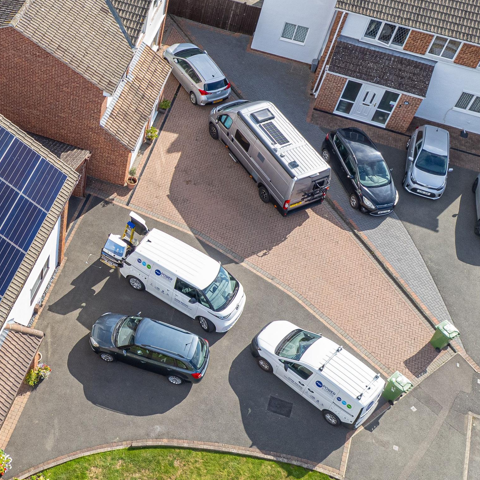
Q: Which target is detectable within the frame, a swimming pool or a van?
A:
van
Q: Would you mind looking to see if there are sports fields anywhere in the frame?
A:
No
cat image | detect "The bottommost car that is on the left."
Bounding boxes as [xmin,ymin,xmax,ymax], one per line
[88,309,209,385]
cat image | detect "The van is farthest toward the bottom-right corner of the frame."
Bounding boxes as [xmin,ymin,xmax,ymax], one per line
[252,321,393,435]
